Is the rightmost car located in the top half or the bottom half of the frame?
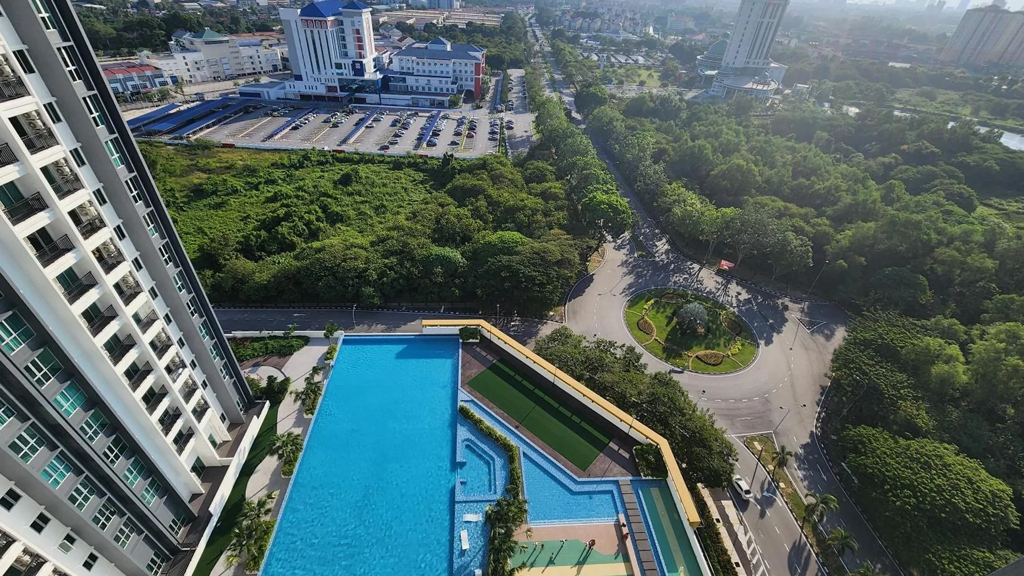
bottom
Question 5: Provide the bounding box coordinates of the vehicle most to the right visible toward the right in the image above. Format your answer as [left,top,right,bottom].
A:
[732,475,757,501]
